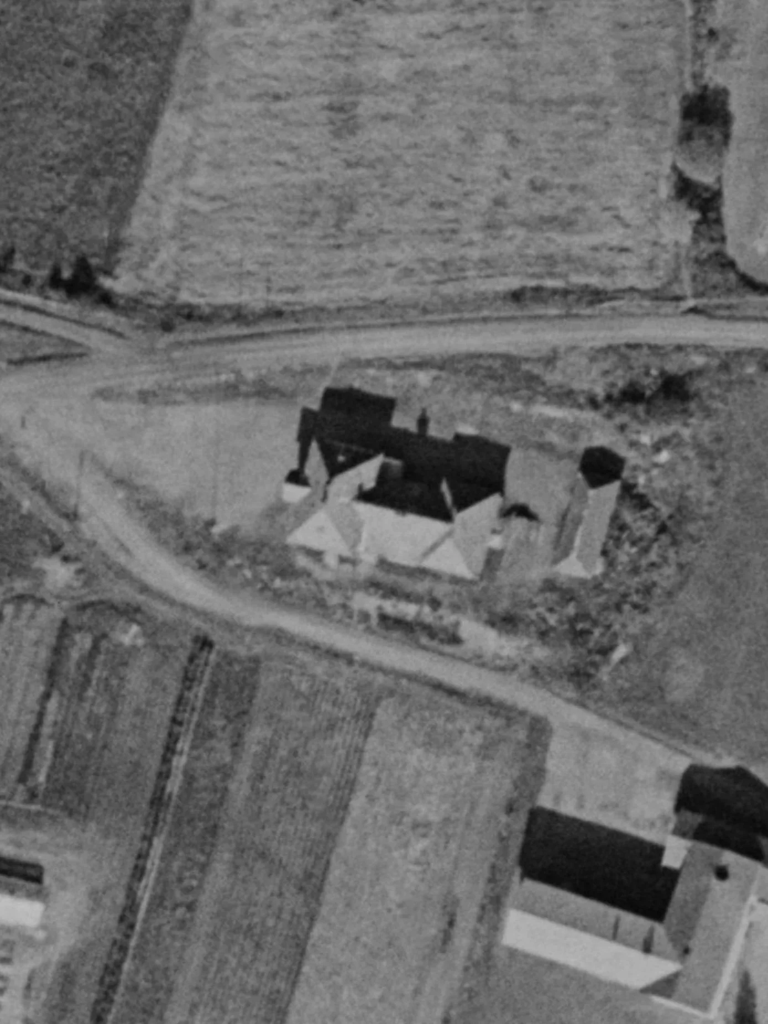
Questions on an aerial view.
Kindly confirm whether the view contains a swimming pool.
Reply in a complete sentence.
No, there appears to be no swimming pool in this shot.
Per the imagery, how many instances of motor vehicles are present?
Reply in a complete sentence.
No motor vehicles are visible.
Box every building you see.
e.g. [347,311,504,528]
[0,877,44,927]
[283,436,503,580]
[553,470,623,578]
[503,808,760,1019]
